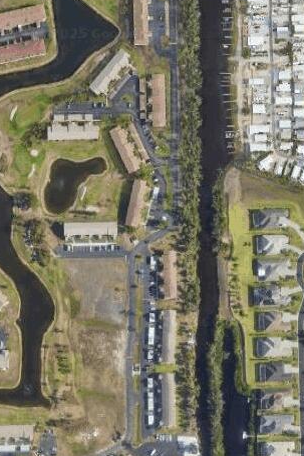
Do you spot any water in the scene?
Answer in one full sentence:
Yes, the picture does contain water.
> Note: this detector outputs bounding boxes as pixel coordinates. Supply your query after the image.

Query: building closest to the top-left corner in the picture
[0,5,47,31]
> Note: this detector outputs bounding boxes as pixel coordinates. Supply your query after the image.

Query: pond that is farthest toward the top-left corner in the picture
[45,157,107,214]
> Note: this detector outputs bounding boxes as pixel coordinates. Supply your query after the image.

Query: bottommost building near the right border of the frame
[259,440,296,456]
